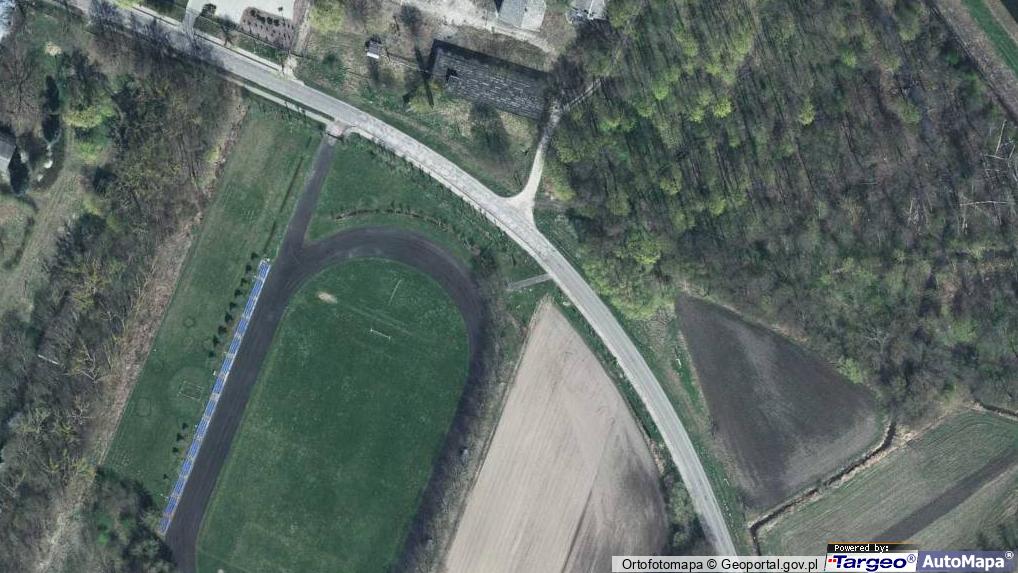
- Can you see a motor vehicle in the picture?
No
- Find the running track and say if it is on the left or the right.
left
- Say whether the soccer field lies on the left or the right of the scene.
left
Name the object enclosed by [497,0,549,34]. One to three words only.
house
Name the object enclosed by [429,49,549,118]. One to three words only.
barn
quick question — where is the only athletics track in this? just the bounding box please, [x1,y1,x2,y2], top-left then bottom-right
[164,226,489,573]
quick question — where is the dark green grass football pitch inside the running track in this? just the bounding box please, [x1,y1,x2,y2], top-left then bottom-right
[195,257,469,573]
